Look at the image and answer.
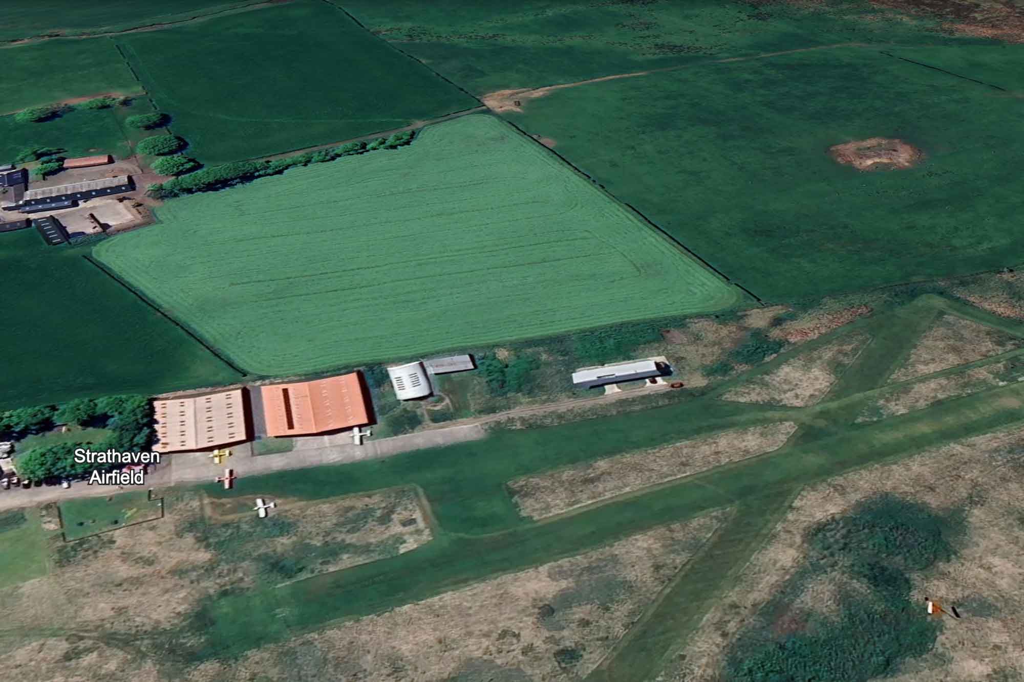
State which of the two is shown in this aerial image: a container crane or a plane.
plane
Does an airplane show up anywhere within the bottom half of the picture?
Yes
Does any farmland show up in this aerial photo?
Yes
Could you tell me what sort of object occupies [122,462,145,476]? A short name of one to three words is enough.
vehicle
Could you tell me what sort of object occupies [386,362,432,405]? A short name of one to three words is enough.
hangar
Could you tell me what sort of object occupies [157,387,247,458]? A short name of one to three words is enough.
hangar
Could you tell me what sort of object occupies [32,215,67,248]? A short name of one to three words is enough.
barn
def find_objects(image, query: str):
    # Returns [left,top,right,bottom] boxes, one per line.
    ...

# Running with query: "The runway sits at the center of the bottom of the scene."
[180,379,1024,659]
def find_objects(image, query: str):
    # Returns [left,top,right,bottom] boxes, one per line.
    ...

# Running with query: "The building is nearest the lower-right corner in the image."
[569,361,664,388]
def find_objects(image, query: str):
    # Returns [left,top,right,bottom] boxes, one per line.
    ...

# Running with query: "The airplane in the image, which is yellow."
[210,446,230,462]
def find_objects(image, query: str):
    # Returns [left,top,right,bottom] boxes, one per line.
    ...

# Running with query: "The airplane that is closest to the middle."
[351,426,370,442]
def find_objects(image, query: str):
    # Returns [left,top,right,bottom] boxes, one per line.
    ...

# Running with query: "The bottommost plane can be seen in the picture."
[255,497,275,516]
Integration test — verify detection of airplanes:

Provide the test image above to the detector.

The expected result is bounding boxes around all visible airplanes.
[216,467,237,489]
[255,497,275,516]
[351,426,370,442]
[210,446,230,462]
